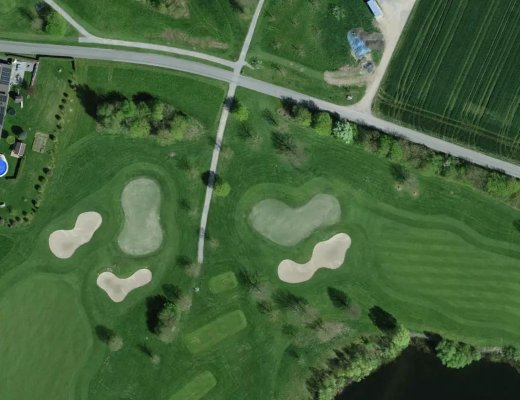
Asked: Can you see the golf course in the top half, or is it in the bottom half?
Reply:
bottom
